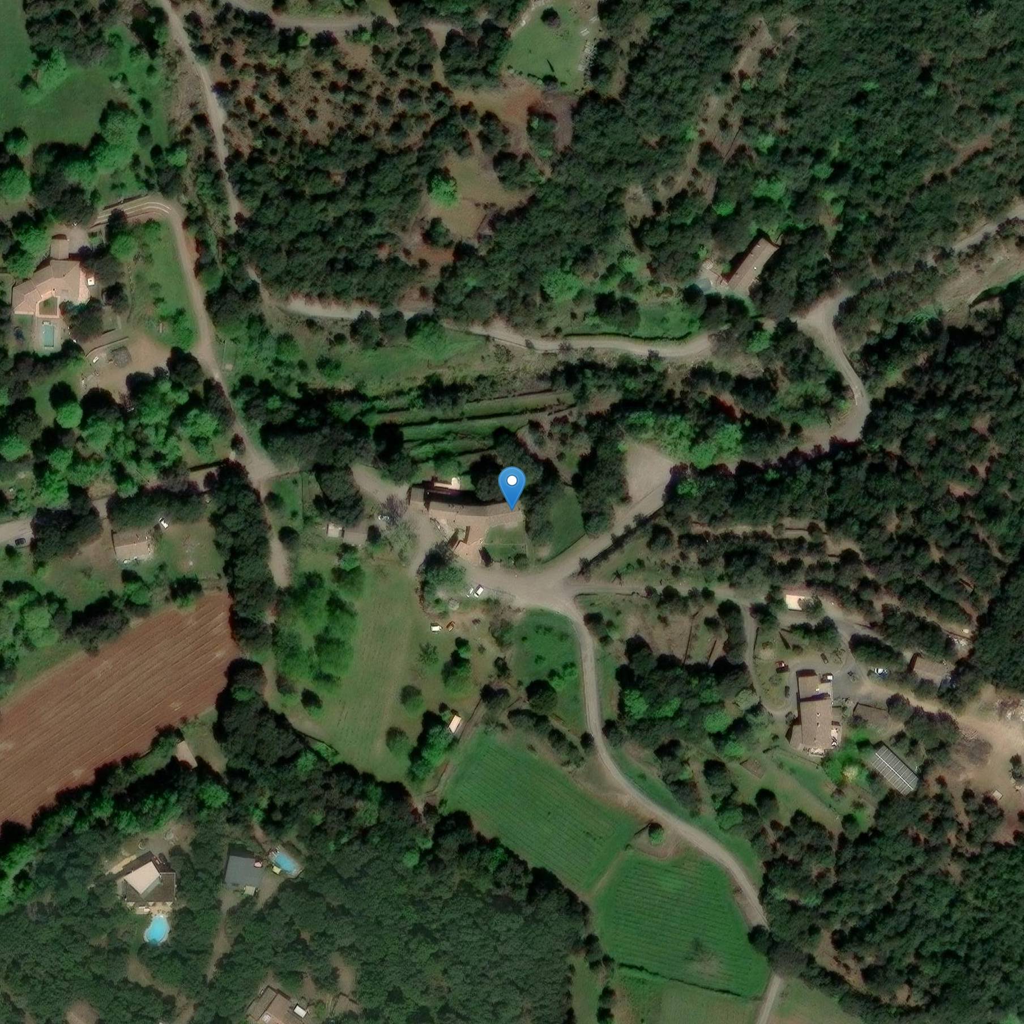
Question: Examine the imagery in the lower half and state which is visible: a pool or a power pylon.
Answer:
pool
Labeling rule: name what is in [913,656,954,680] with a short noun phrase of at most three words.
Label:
barn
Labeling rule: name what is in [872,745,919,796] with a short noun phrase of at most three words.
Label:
building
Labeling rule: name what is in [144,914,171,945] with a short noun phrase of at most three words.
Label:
swimming pool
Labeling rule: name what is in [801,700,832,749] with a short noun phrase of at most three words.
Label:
house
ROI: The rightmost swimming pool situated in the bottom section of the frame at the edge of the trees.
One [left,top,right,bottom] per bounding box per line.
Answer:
[272,850,299,875]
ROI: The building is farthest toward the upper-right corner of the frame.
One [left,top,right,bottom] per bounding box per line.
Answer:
[728,236,779,294]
